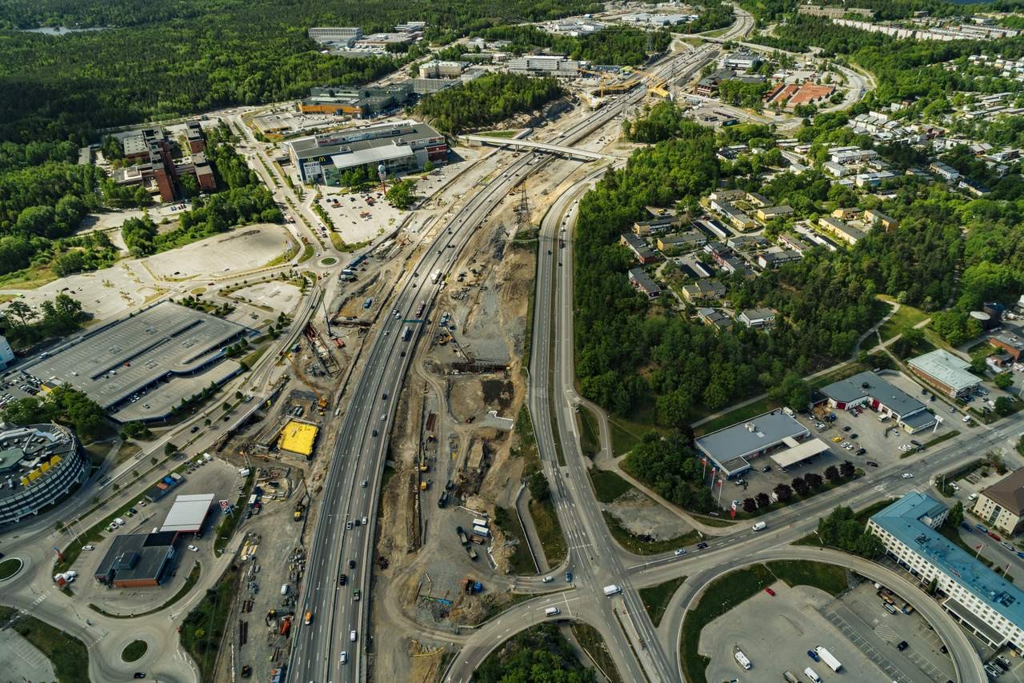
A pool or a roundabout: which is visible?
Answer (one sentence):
I can see a roundabout in this picture.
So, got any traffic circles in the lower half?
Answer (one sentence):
Yes, a traffic circle is visible in the lower half.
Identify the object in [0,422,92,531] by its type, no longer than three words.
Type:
building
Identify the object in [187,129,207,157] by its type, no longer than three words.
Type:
building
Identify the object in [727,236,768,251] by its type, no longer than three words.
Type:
house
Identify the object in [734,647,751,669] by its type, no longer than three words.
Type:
camper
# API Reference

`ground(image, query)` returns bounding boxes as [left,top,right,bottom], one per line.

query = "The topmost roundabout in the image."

[301,250,355,272]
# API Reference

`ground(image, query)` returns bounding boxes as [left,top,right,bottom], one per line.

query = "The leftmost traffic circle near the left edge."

[0,535,55,601]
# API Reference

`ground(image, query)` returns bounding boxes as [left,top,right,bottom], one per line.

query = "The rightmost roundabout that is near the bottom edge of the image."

[88,610,182,683]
